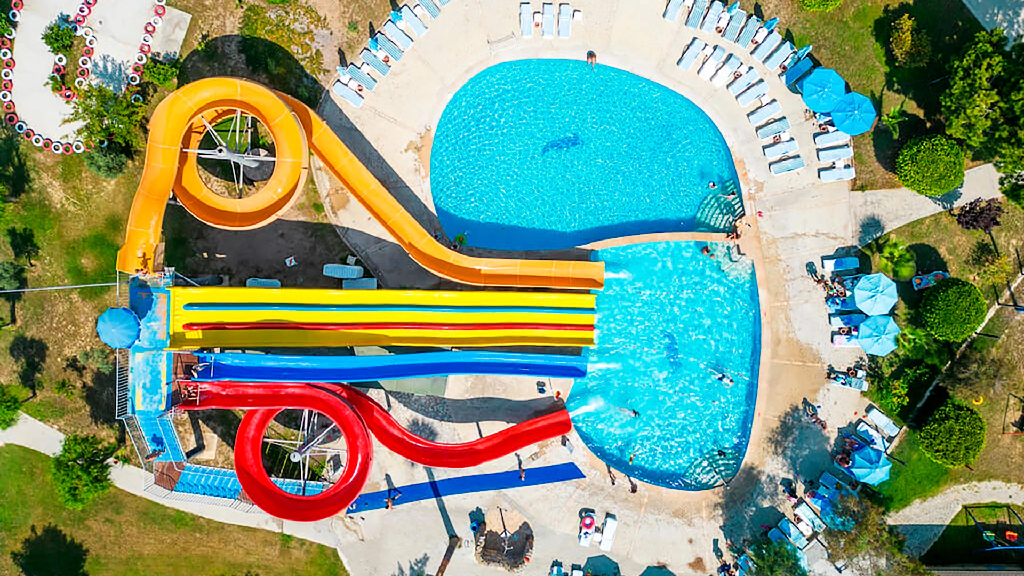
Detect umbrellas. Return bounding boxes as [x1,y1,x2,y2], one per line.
[392,9,407,28]
[335,64,351,83]
[761,17,779,34]
[101,306,149,348]
[827,94,871,137]
[850,272,894,316]
[798,70,843,114]
[369,37,383,53]
[837,438,887,487]
[853,314,895,354]
[722,1,740,20]
[790,45,812,63]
